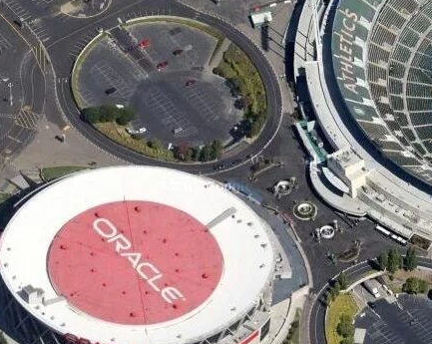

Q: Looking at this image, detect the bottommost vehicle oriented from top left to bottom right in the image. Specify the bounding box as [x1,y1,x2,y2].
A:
[368,280,381,294]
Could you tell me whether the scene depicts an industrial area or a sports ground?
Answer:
sports ground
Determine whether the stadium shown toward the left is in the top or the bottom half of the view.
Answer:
bottom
